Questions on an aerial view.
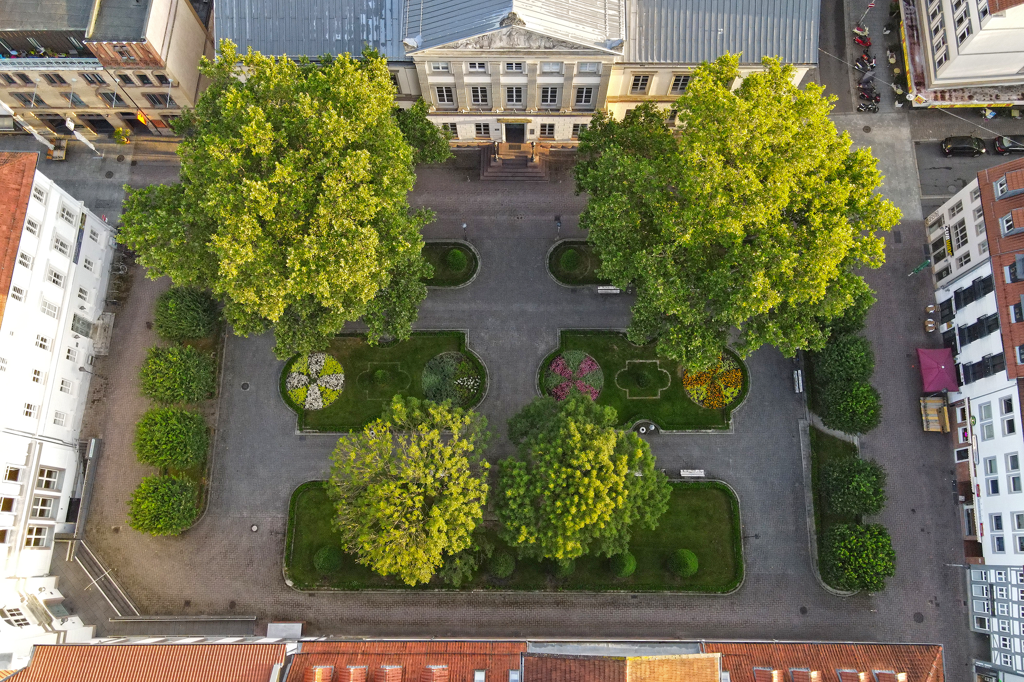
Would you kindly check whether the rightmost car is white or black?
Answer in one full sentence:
The rightmost car is black.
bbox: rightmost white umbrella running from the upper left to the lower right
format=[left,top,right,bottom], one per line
[75,131,103,157]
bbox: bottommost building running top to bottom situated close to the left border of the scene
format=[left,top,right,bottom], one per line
[0,433,94,651]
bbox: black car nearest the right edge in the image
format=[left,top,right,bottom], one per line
[992,131,1024,156]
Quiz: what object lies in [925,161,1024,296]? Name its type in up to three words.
building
